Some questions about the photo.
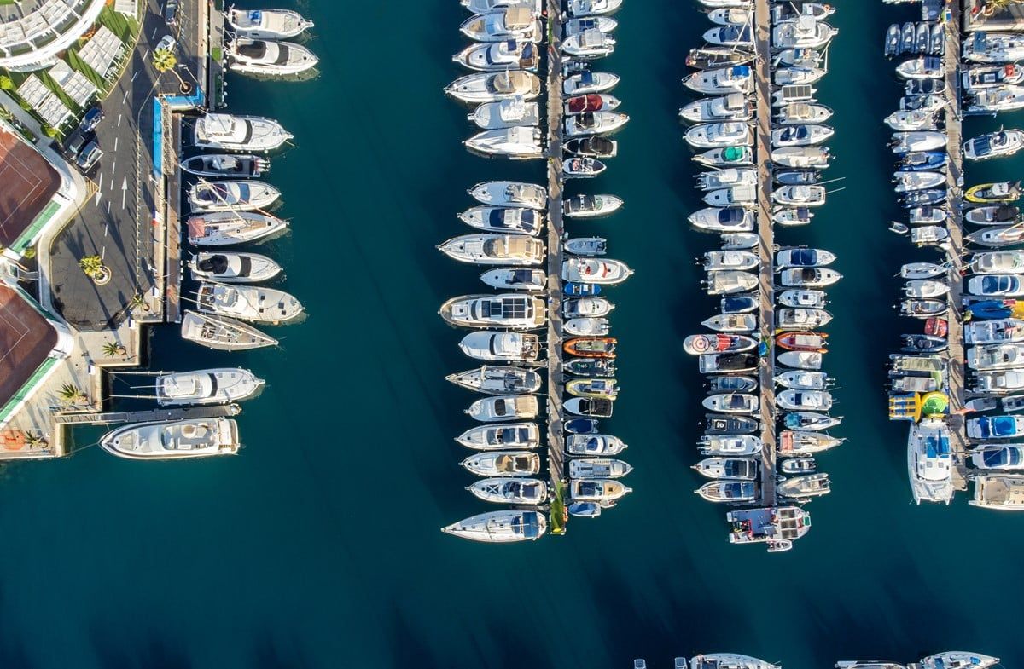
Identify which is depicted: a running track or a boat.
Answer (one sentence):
I can see a boat in this picture.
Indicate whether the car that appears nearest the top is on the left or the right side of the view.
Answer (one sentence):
The car that appears nearest the top is on the left side of the image.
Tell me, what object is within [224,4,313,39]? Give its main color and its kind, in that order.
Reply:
white boat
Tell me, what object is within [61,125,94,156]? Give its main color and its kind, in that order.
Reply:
black car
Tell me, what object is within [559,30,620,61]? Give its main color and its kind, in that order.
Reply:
white boat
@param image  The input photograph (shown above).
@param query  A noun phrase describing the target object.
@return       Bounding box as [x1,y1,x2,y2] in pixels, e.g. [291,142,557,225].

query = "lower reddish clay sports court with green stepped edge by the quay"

[0,281,82,444]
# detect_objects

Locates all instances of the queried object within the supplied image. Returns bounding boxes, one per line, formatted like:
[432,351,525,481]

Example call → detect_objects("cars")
[152,30,179,52]
[61,125,94,156]
[75,105,106,129]
[75,139,106,169]
[161,0,181,26]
